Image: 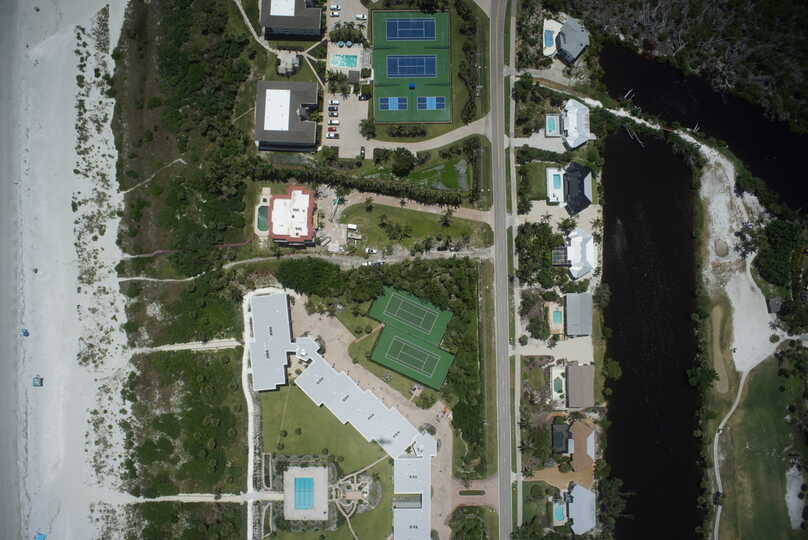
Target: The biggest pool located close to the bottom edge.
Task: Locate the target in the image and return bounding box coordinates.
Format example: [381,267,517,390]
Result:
[284,467,327,520]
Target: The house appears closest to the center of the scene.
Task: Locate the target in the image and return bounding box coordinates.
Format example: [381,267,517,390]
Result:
[270,187,317,242]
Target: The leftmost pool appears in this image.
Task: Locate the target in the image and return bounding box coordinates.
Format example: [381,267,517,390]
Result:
[255,201,270,237]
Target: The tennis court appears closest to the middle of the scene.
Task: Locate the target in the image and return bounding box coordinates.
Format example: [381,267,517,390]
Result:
[384,293,439,334]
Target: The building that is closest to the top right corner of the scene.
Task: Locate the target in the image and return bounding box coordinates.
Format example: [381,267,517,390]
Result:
[558,13,589,59]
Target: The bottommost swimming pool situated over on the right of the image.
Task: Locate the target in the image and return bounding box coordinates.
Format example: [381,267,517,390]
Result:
[553,498,567,527]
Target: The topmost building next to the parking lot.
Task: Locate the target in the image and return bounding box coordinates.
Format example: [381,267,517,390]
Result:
[262,0,321,34]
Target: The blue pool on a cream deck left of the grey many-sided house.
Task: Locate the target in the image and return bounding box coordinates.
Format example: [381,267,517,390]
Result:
[544,19,562,55]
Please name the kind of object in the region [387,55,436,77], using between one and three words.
tennis court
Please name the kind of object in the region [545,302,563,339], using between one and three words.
swimming pool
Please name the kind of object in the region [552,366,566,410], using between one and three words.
swimming pool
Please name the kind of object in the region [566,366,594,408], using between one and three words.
house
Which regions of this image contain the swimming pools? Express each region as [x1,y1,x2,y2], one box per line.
[553,498,567,527]
[552,425,567,452]
[545,114,560,136]
[546,167,563,204]
[255,201,270,237]
[284,467,327,520]
[552,366,566,410]
[327,42,362,73]
[544,19,562,55]
[545,302,563,339]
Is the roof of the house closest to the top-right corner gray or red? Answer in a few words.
gray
